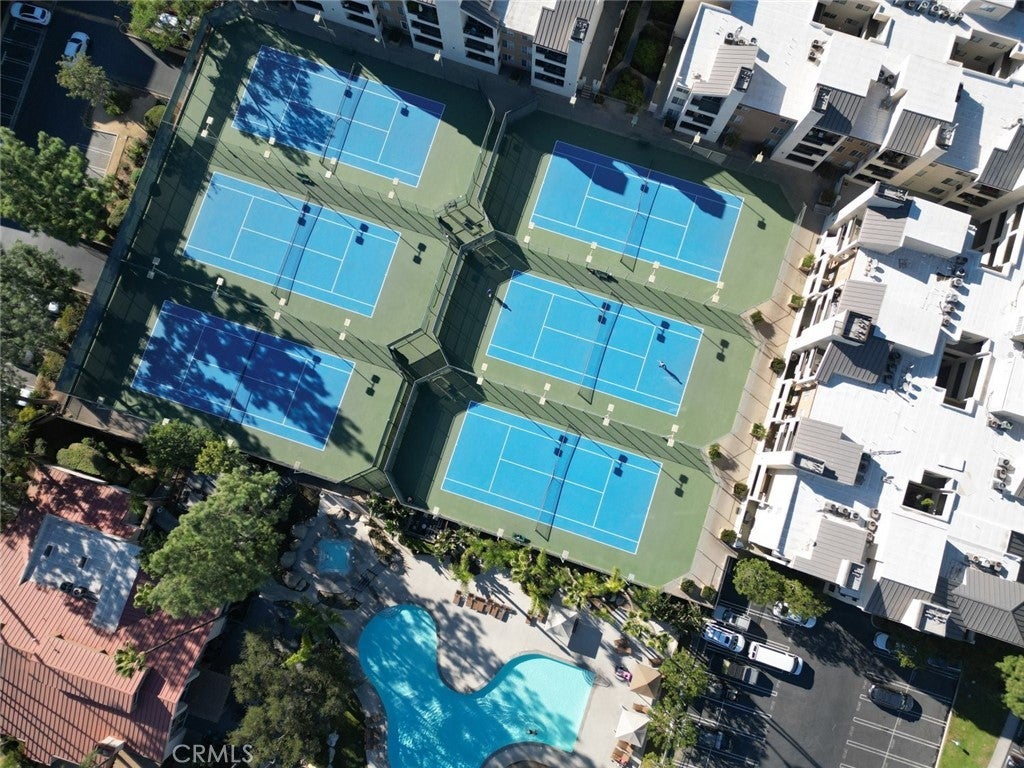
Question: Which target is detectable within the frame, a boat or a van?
van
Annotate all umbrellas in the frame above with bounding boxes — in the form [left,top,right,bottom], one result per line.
[629,663,662,698]
[614,708,650,746]
[543,604,579,644]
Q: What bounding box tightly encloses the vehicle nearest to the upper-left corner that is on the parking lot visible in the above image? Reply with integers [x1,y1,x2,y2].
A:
[11,2,53,28]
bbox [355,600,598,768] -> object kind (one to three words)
swimming pool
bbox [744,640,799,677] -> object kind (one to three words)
van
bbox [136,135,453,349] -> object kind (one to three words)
tennis court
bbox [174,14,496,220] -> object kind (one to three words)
tennis court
